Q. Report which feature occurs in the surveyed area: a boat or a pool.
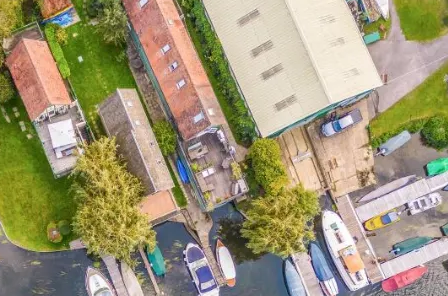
boat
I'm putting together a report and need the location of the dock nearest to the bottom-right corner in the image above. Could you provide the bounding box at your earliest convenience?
[380,234,448,279]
